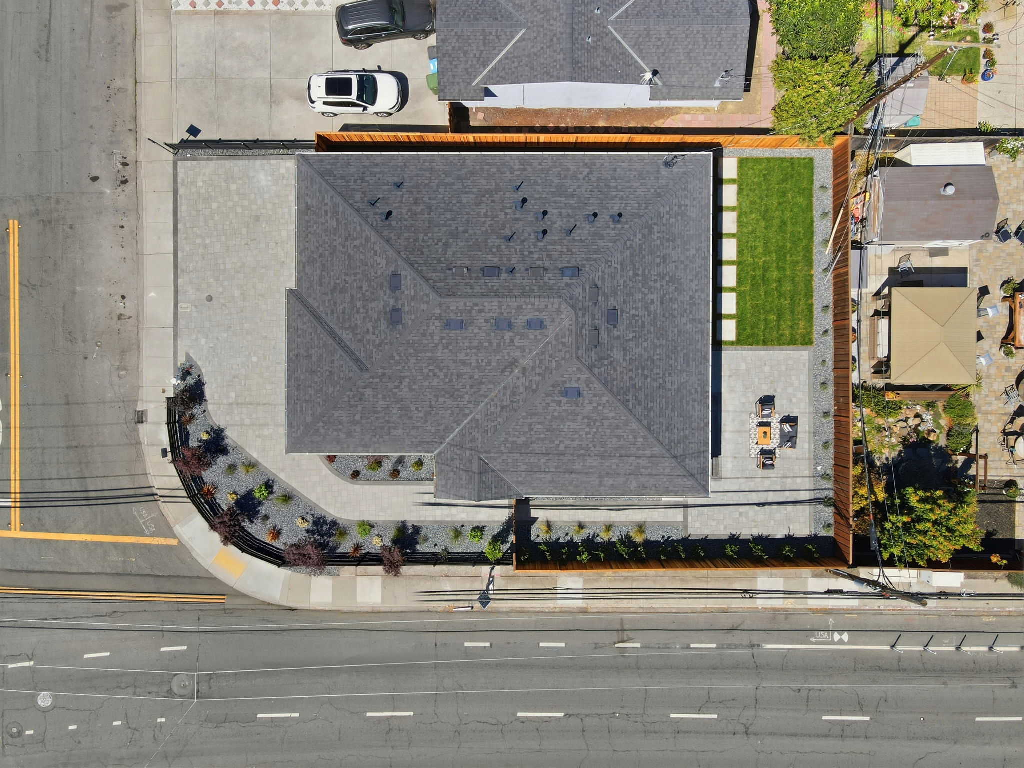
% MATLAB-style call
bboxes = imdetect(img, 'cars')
[332,0,437,48]
[306,65,402,118]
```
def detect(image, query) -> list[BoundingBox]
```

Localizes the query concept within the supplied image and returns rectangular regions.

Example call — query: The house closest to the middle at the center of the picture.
[284,151,714,502]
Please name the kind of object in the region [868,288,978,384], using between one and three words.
gazebo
